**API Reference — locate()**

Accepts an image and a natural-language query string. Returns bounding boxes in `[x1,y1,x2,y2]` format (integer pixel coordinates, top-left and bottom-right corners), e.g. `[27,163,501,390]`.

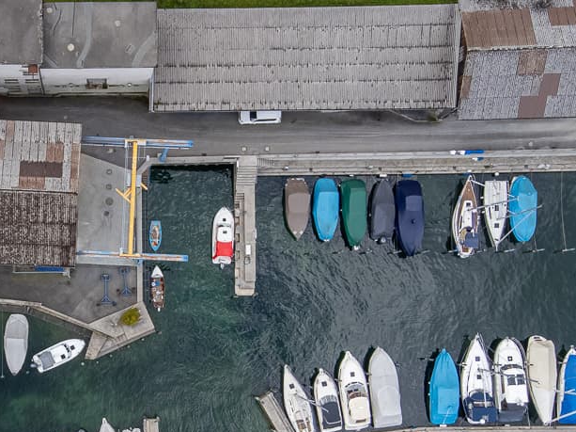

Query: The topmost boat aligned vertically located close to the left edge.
[4,313,31,376]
